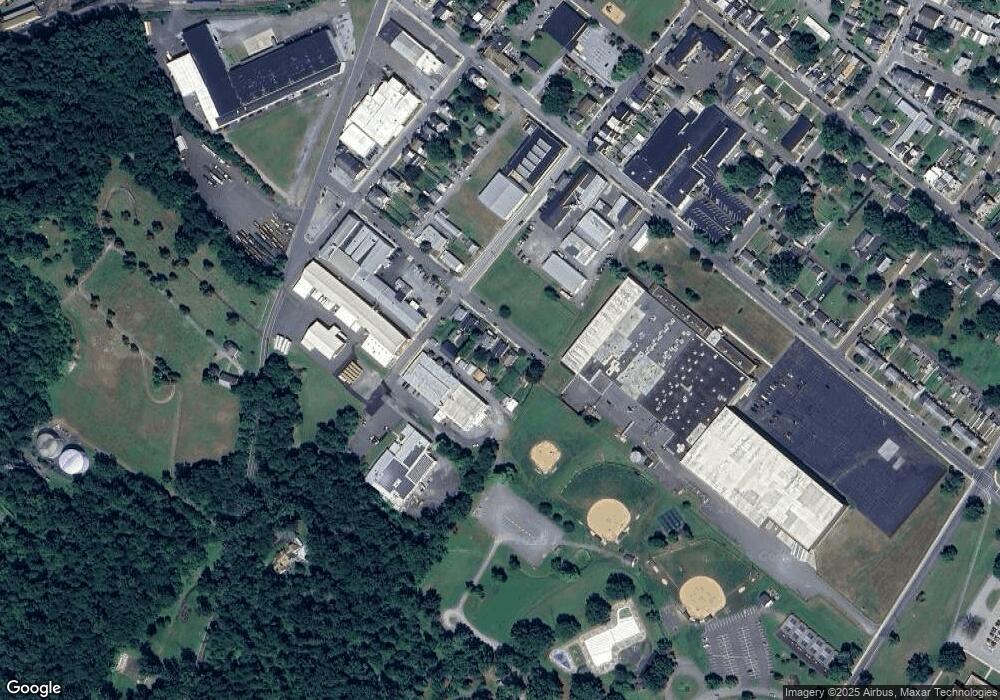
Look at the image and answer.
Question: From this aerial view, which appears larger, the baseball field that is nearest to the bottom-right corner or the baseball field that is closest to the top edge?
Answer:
the baseball field that is nearest to the bottom-right corner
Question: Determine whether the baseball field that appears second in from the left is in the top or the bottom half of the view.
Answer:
bottom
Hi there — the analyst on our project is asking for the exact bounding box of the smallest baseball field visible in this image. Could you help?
[529,440,562,478]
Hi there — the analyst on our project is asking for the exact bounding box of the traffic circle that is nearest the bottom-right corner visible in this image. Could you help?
[669,671,704,700]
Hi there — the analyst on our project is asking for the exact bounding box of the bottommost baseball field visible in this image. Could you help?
[647,543,755,623]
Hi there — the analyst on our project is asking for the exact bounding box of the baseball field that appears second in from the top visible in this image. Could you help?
[562,462,654,546]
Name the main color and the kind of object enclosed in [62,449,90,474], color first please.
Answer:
white water tank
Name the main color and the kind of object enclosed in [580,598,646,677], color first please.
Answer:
white swimming pool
